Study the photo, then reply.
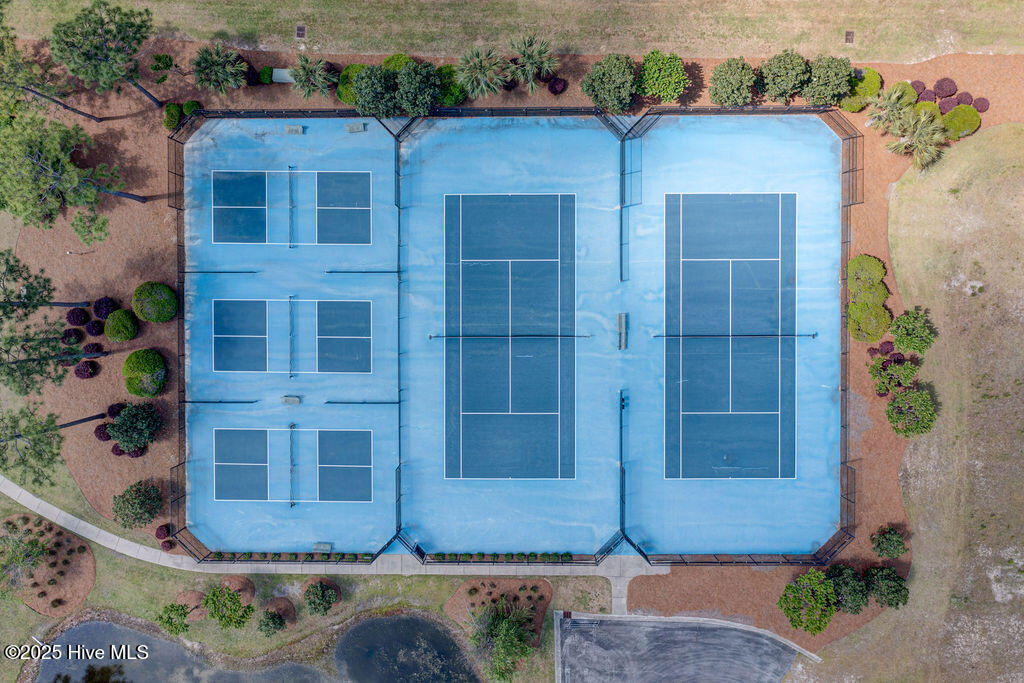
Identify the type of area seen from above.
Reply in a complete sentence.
This image shows a sports ground.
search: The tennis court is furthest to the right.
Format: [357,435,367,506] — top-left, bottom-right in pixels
[620,115,842,554]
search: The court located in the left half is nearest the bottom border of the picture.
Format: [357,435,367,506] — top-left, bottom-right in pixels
[186,402,400,553]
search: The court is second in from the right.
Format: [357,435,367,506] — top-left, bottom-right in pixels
[400,116,621,554]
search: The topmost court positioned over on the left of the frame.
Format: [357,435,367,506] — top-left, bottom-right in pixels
[184,117,400,272]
